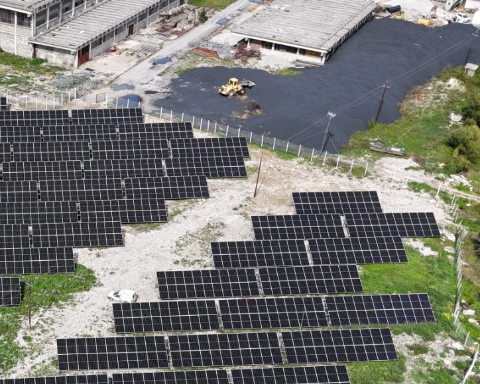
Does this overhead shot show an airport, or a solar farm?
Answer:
solar farm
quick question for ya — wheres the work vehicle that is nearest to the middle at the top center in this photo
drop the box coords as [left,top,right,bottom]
[218,79,256,99]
